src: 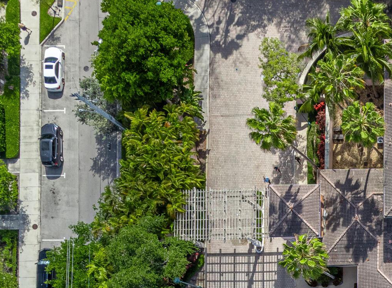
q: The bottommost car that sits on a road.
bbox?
[39,124,65,168]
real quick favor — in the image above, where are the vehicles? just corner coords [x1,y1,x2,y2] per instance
[42,48,66,93]
[30,250,53,288]
[39,124,65,168]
